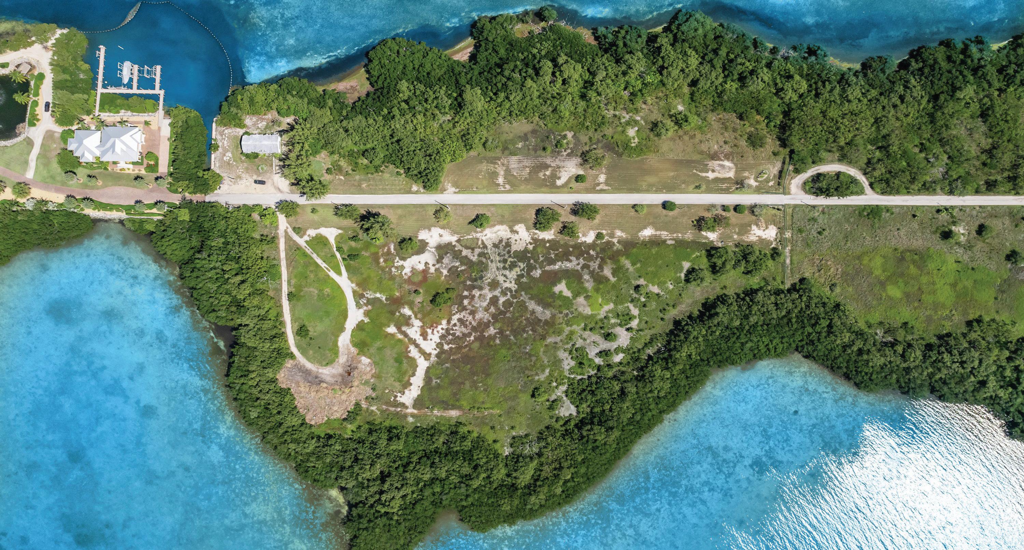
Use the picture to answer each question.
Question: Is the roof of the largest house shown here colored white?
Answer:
Yes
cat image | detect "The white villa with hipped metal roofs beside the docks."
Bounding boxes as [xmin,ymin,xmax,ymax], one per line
[68,123,145,169]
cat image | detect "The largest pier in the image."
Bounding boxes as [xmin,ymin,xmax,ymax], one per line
[95,45,167,127]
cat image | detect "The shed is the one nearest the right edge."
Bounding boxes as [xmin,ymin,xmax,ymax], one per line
[241,134,281,153]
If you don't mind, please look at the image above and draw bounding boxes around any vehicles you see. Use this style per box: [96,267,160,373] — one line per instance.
[254,180,266,185]
[44,101,51,112]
